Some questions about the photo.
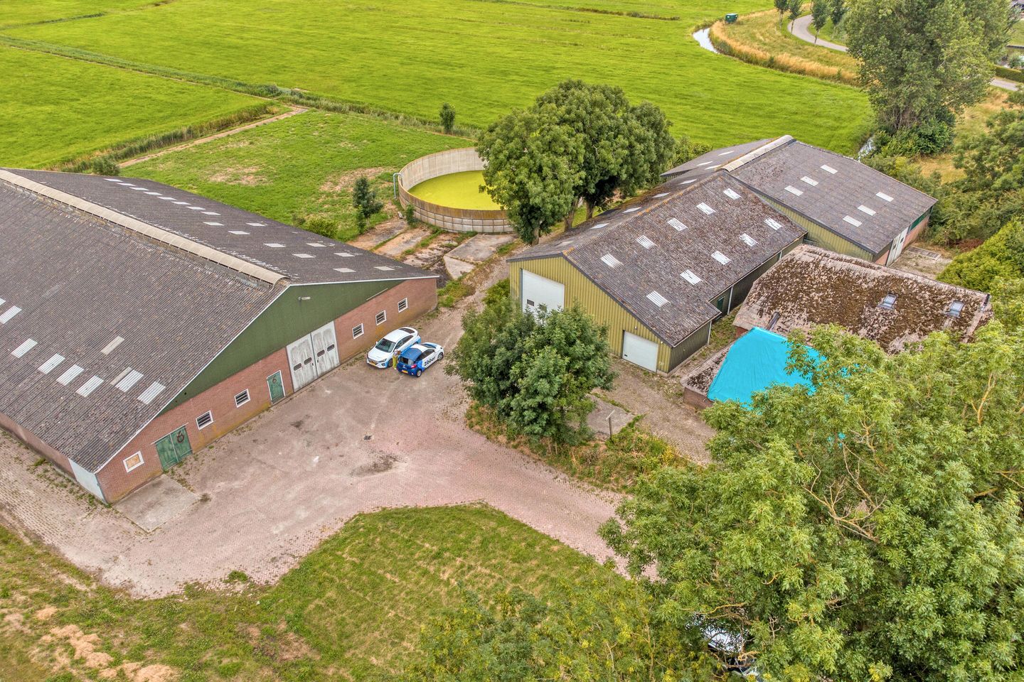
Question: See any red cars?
No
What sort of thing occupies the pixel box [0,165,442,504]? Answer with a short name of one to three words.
barn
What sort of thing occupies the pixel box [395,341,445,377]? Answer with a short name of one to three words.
car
